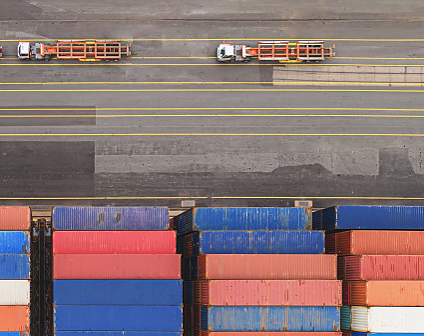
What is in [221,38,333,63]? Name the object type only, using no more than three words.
truck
